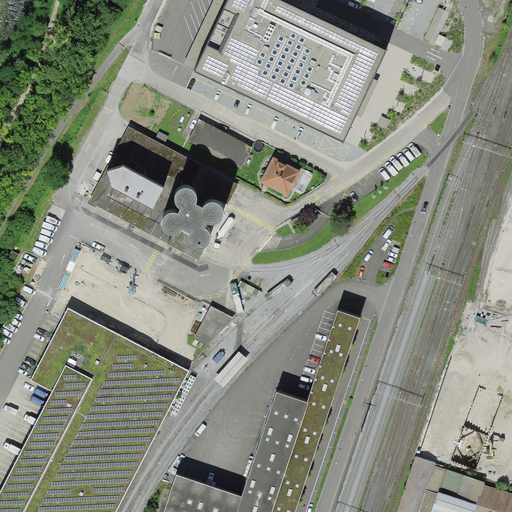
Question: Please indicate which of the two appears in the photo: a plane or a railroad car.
railroad car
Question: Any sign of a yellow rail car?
No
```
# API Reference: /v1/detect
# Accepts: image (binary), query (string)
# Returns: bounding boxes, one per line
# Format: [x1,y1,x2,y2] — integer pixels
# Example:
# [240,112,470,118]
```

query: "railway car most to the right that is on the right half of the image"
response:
[314,272,338,296]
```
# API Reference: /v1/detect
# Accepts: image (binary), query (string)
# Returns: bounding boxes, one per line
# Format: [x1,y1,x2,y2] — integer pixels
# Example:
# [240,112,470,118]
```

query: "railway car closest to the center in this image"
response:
[263,278,294,302]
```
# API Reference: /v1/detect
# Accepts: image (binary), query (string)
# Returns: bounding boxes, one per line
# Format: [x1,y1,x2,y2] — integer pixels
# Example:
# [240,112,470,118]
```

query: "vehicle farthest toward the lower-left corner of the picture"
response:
[2,442,21,456]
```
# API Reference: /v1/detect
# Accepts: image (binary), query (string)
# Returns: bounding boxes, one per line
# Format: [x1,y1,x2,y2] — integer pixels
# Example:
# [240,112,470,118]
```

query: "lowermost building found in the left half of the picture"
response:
[162,472,242,512]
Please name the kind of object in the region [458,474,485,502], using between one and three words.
shed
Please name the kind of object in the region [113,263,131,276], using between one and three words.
vehicle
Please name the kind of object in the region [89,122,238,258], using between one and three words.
building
